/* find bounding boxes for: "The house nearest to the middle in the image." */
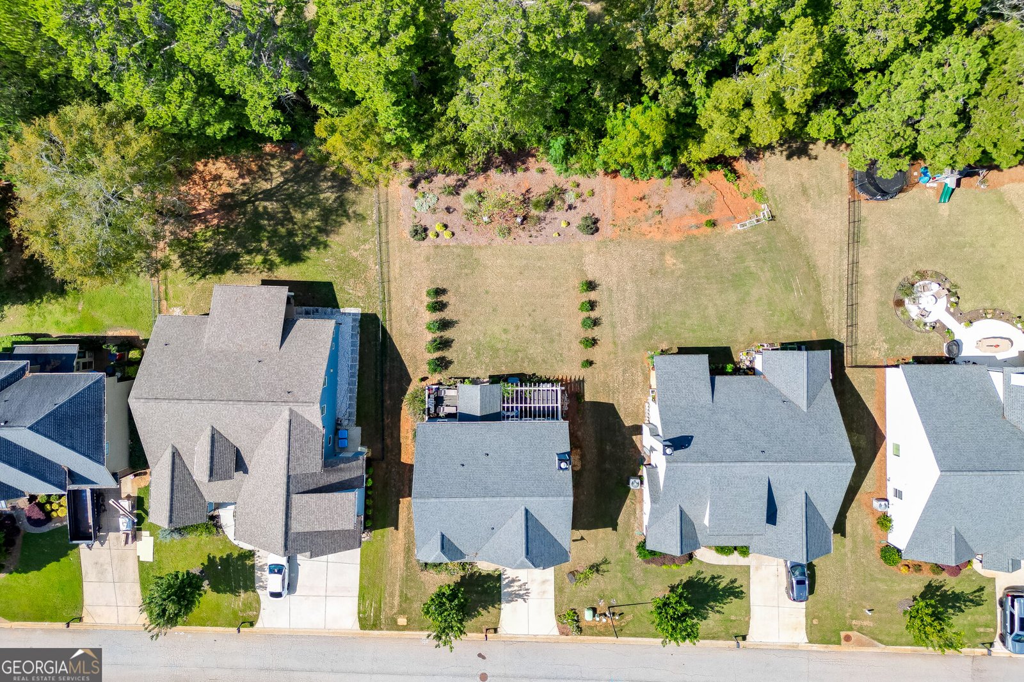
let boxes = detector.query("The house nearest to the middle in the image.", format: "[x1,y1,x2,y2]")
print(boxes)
[412,383,574,570]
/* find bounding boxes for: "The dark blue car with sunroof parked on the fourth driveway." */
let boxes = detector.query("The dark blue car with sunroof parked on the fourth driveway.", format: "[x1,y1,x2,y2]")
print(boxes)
[782,559,809,602]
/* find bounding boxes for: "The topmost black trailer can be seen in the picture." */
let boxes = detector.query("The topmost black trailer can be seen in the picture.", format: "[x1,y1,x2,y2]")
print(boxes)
[68,488,109,553]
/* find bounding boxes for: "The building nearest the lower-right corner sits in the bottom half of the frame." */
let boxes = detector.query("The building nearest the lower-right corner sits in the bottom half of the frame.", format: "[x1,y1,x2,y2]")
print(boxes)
[871,364,1024,573]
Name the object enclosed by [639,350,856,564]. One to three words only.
house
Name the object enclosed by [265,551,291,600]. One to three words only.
car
